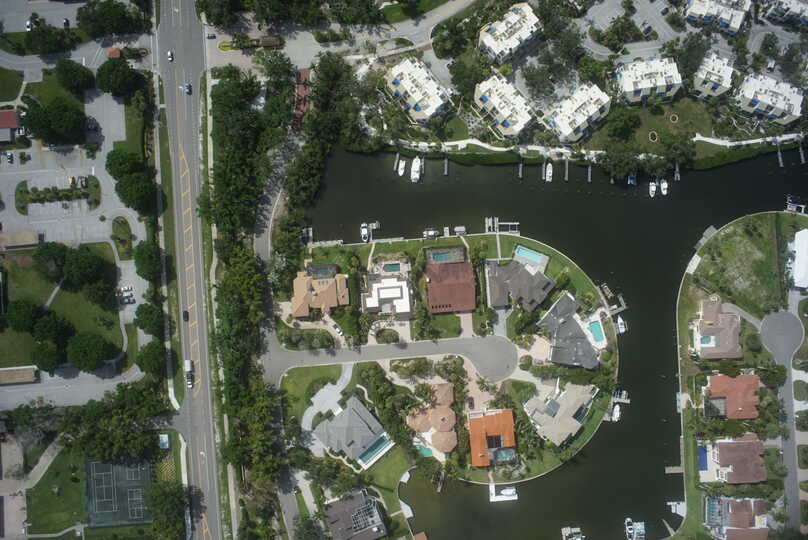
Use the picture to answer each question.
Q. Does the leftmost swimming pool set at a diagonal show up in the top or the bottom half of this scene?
bottom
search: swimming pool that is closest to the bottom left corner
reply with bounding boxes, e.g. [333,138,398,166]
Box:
[357,433,395,470]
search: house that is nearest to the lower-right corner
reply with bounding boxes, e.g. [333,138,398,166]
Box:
[725,497,769,540]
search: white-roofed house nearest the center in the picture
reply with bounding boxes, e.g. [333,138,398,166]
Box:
[366,279,410,313]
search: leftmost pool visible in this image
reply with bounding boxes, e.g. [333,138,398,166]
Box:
[308,261,338,276]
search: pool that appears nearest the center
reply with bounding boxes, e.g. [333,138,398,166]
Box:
[370,259,410,282]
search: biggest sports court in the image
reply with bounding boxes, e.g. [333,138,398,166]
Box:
[84,458,152,527]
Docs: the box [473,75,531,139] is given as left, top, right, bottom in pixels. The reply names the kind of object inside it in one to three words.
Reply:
building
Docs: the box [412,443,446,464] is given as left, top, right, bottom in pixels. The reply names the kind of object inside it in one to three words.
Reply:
swimming pool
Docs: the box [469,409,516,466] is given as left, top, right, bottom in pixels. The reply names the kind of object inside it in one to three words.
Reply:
house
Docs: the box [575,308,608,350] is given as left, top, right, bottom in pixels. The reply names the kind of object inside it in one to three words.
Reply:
swimming pool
